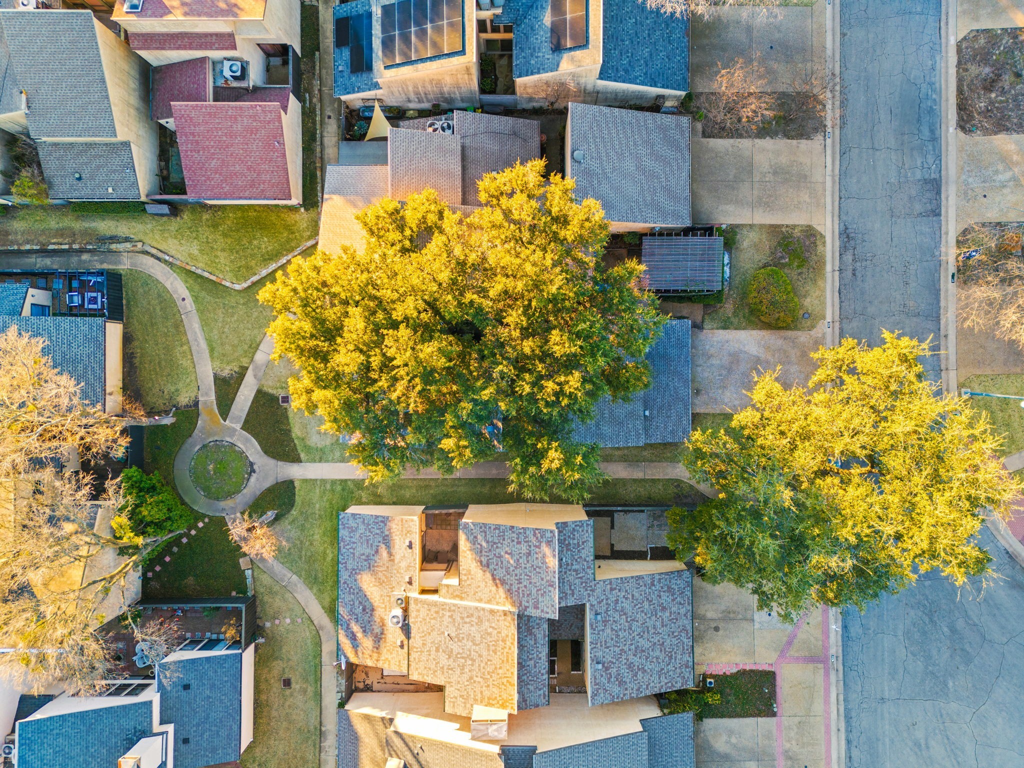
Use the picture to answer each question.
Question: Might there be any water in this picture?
No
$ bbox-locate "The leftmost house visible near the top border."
[0,0,159,206]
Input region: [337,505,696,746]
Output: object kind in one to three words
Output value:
house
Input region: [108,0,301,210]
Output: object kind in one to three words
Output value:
house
